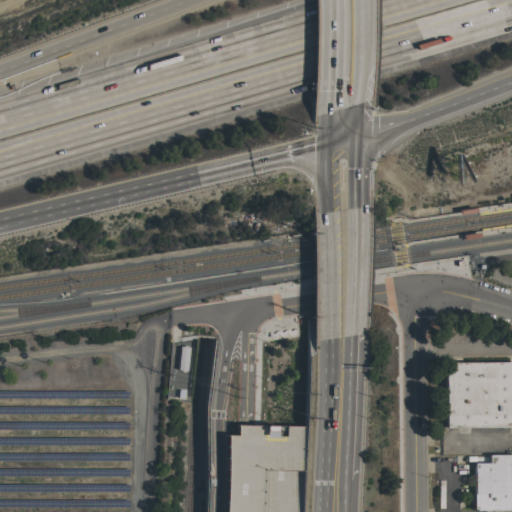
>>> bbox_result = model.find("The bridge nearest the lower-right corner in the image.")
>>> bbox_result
[317,208,374,342]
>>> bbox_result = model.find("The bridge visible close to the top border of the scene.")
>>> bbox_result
[318,0,381,114]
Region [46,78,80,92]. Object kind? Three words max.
vehicle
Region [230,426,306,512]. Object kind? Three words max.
building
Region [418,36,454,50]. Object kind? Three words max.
vehicle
